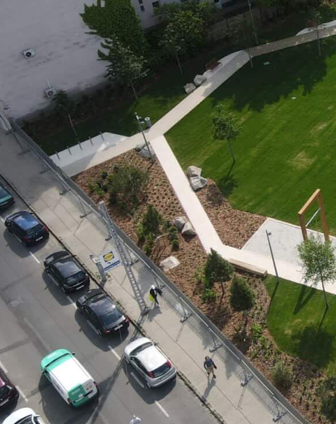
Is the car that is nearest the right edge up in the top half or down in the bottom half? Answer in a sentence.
The car that is nearest the right edge is in the bottom half of the image.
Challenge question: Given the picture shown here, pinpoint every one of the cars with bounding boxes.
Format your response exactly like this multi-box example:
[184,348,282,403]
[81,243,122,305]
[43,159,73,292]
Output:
[0,401,46,424]
[119,331,182,393]
[37,241,96,298]
[1,204,53,251]
[72,282,134,343]
[0,360,23,414]
[0,174,19,212]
